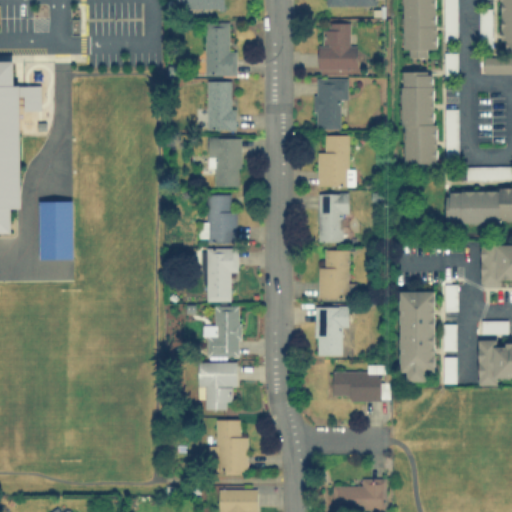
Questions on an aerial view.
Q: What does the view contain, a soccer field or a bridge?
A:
soccer field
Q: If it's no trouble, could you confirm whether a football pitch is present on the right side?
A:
No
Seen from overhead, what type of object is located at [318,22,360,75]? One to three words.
house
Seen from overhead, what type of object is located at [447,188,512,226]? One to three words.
building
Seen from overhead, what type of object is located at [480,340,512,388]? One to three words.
building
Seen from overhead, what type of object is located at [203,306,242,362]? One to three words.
house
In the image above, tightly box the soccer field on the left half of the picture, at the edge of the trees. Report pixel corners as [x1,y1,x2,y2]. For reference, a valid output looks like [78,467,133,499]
[20,291,120,461]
